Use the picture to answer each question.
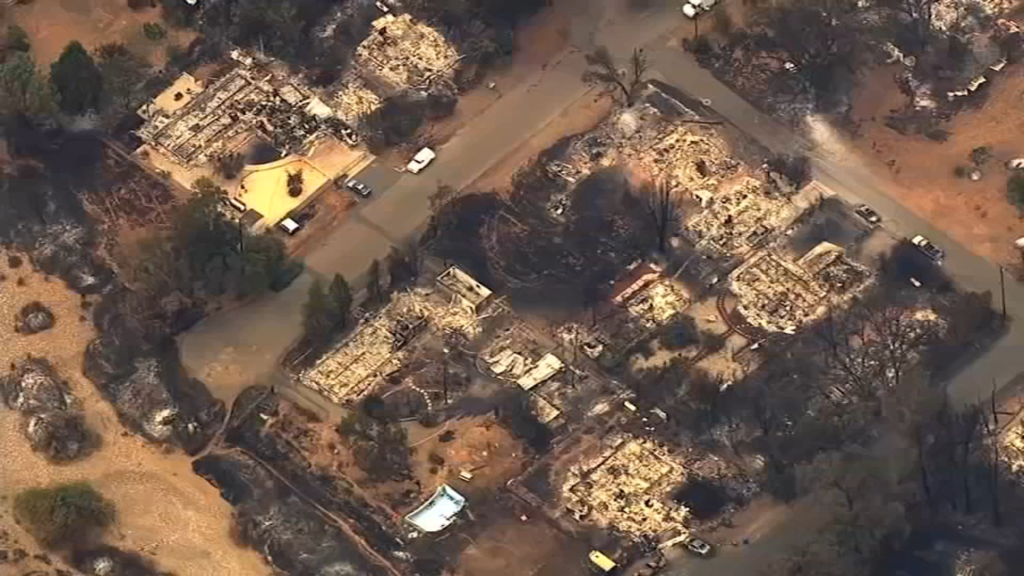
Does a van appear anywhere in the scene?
Yes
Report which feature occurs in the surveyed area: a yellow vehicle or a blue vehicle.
yellow vehicle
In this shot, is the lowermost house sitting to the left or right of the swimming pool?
to its right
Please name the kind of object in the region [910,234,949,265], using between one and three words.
truck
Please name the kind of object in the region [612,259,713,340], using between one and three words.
house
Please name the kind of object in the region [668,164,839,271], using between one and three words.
house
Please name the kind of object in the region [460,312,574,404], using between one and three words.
shed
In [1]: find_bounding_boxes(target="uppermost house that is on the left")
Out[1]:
[344,5,471,96]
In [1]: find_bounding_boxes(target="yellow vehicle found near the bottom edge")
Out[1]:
[583,545,619,575]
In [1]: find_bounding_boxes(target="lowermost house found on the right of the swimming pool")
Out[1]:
[545,423,709,567]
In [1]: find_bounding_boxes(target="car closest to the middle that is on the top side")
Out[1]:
[406,148,435,174]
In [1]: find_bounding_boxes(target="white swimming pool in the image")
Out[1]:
[401,481,468,534]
